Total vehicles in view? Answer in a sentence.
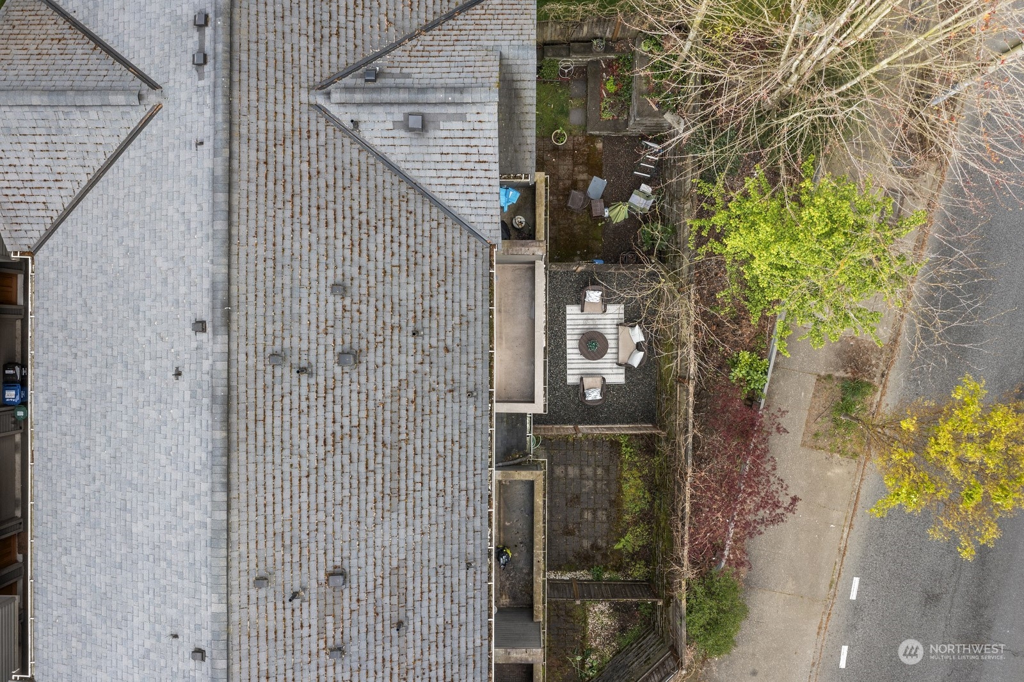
I count no vehicles.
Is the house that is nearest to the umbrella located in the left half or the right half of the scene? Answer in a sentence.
It is on the left.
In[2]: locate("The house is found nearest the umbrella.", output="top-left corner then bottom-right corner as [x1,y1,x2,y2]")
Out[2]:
[0,0,548,682]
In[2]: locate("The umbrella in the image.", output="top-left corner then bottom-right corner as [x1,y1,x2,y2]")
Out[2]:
[604,202,626,223]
